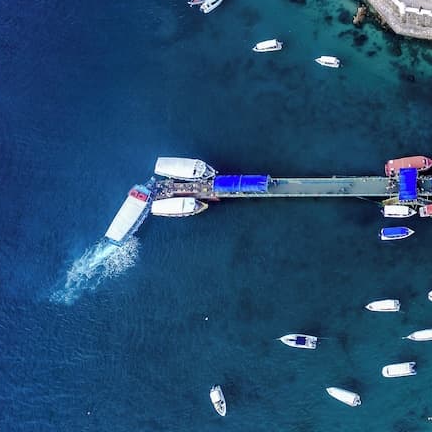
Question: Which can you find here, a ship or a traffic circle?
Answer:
ship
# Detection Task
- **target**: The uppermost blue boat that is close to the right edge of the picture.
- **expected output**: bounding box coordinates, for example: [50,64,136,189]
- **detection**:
[379,227,414,240]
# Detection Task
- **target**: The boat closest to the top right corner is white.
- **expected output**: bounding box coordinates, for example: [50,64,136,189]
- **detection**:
[316,55,344,68]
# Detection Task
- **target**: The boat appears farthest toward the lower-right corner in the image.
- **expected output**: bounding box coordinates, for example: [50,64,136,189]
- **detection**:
[382,363,418,377]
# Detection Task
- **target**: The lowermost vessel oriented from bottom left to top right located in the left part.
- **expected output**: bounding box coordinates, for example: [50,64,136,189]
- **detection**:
[107,184,161,250]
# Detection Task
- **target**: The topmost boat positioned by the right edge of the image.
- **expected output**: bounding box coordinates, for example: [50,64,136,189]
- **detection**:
[385,154,432,176]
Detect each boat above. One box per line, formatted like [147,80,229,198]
[275,335,320,350]
[366,299,403,313]
[379,227,414,240]
[404,328,432,341]
[148,195,209,216]
[327,388,364,408]
[316,55,344,68]
[253,37,283,51]
[418,203,432,217]
[382,363,418,377]
[200,0,224,14]
[209,382,225,416]
[150,155,218,180]
[385,154,432,176]
[380,203,417,217]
